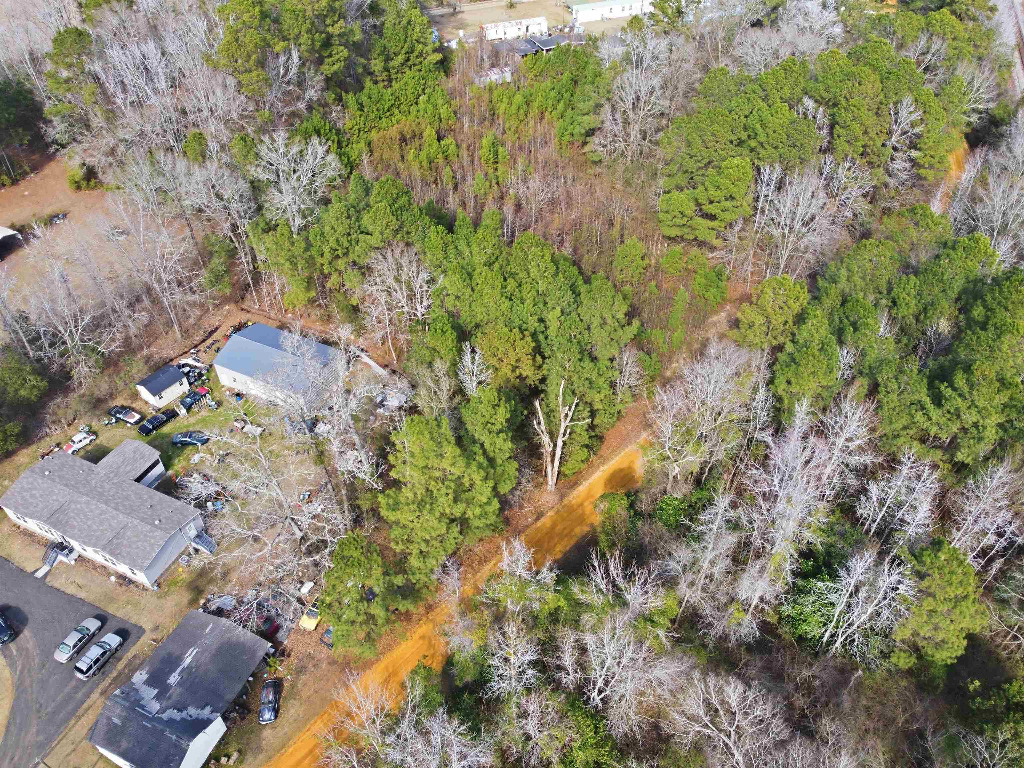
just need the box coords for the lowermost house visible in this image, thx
[88,607,270,768]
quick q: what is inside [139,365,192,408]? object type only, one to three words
shed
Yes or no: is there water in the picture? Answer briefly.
No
